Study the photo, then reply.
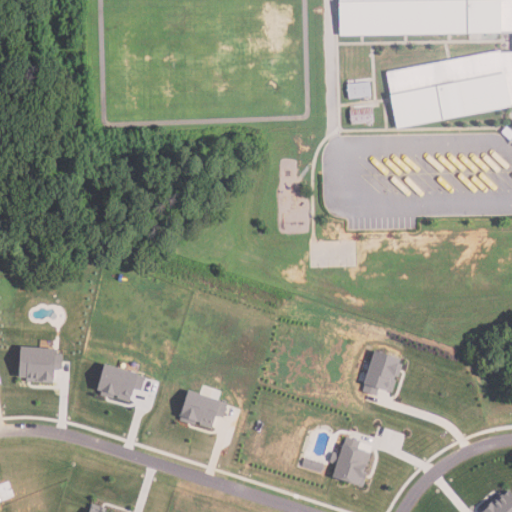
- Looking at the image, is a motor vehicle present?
Yes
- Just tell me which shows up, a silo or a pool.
pool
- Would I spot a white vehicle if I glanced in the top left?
No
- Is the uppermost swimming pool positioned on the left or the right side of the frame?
left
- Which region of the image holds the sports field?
top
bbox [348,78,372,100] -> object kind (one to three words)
shed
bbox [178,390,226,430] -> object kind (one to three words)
house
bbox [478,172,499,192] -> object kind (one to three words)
vehicle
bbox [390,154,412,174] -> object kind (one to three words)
bus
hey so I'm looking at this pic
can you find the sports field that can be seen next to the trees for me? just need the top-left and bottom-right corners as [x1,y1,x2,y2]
[106,0,302,116]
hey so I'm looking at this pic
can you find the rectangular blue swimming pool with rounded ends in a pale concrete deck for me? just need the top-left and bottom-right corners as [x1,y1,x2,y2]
[297,425,336,472]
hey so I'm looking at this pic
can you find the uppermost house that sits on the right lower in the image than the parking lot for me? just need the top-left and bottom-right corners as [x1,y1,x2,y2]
[364,350,401,394]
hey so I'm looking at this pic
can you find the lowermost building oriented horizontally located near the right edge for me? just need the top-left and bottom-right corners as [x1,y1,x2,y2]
[386,50,512,128]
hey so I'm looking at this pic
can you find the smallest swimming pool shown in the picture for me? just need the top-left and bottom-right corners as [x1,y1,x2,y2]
[29,304,67,328]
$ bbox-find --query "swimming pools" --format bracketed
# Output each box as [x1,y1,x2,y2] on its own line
[29,304,67,328]
[297,425,336,472]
